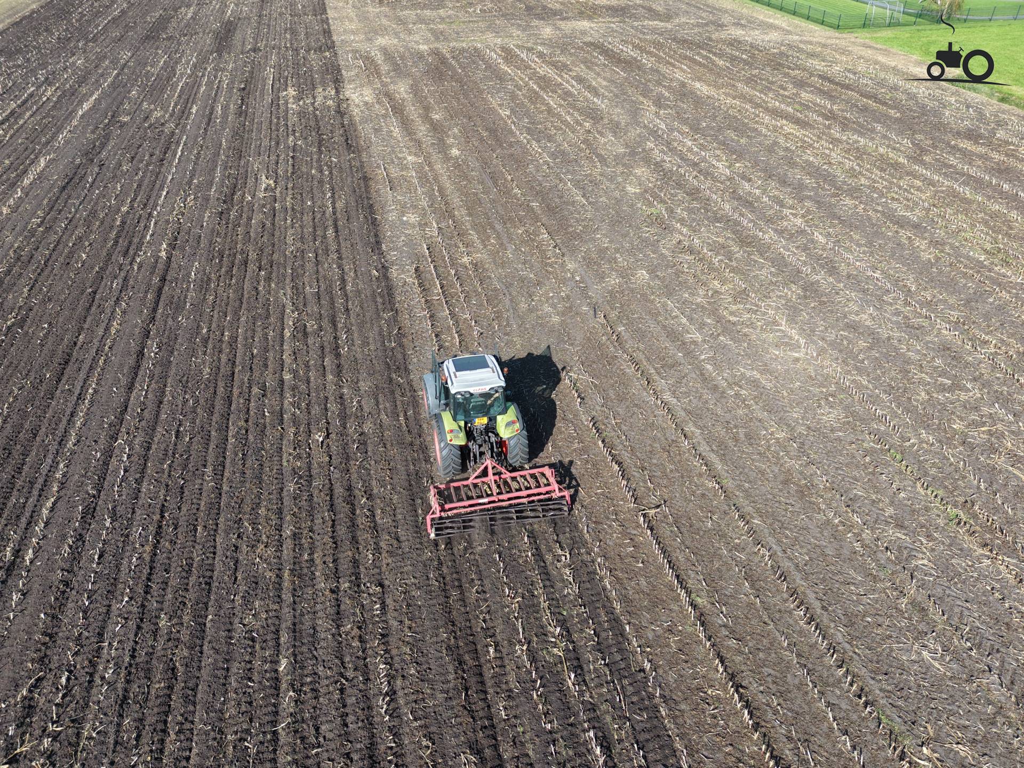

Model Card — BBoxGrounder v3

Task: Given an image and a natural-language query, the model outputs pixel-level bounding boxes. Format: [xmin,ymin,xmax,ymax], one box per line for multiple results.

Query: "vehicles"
[423,343,530,477]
